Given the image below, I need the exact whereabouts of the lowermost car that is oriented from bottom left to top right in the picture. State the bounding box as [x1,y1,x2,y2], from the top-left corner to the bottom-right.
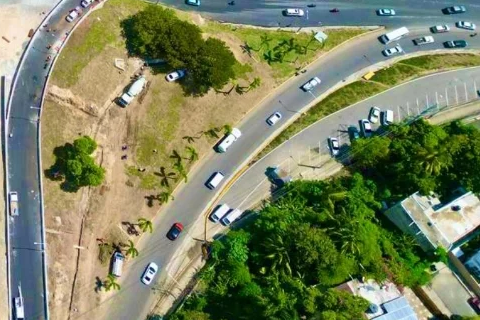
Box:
[140,261,160,286]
